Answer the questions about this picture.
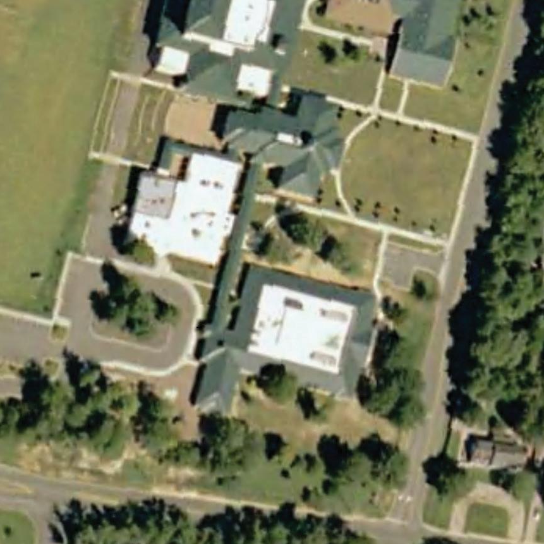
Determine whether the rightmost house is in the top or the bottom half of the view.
bottom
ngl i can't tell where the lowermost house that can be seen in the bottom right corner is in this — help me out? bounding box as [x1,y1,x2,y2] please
[470,429,527,467]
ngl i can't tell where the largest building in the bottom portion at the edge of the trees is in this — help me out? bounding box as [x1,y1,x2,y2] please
[200,262,375,398]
